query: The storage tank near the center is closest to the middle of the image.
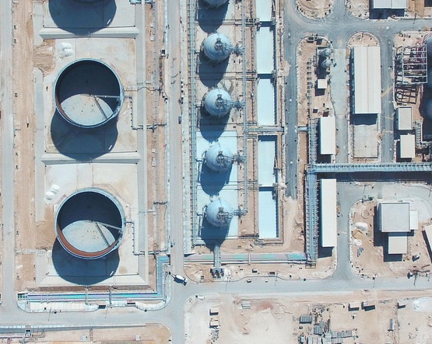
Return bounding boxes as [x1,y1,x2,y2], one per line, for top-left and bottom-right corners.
[196,142,244,180]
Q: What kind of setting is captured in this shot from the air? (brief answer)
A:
industrial area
